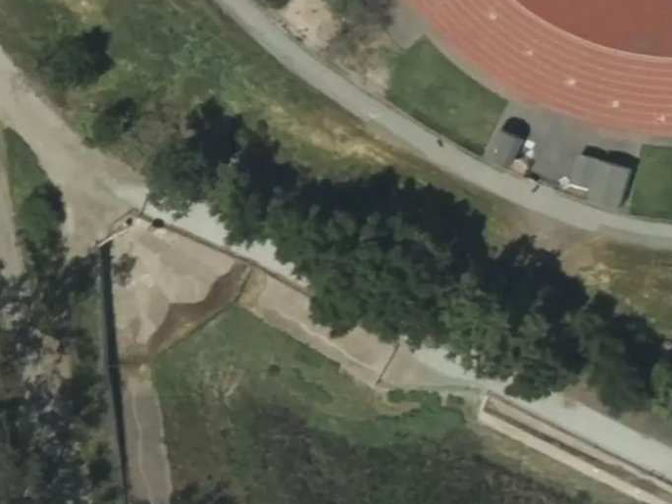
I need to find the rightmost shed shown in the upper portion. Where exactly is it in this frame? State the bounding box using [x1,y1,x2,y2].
[597,160,638,207]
